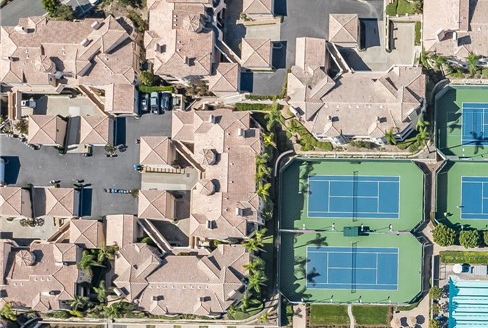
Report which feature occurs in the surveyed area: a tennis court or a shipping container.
tennis court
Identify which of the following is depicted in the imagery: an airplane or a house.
house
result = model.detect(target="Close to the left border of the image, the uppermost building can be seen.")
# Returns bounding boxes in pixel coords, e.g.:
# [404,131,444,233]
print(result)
[0,10,147,117]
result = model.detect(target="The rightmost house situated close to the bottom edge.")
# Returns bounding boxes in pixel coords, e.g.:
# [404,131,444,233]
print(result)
[108,245,257,322]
